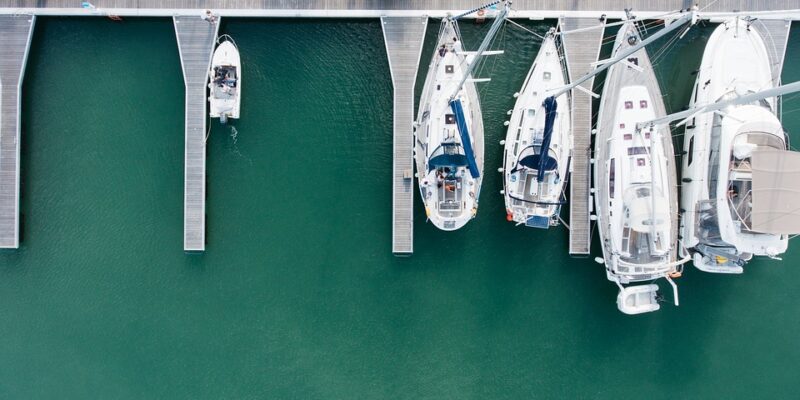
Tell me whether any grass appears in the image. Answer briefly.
No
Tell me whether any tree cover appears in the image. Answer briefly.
No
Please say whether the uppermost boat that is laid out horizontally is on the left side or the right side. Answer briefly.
right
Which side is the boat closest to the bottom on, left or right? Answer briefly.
right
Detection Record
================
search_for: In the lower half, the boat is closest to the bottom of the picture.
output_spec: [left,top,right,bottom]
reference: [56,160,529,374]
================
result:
[617,284,664,314]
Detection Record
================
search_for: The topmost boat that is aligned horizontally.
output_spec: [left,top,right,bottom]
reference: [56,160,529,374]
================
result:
[690,248,748,273]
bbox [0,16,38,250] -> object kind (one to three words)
pier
